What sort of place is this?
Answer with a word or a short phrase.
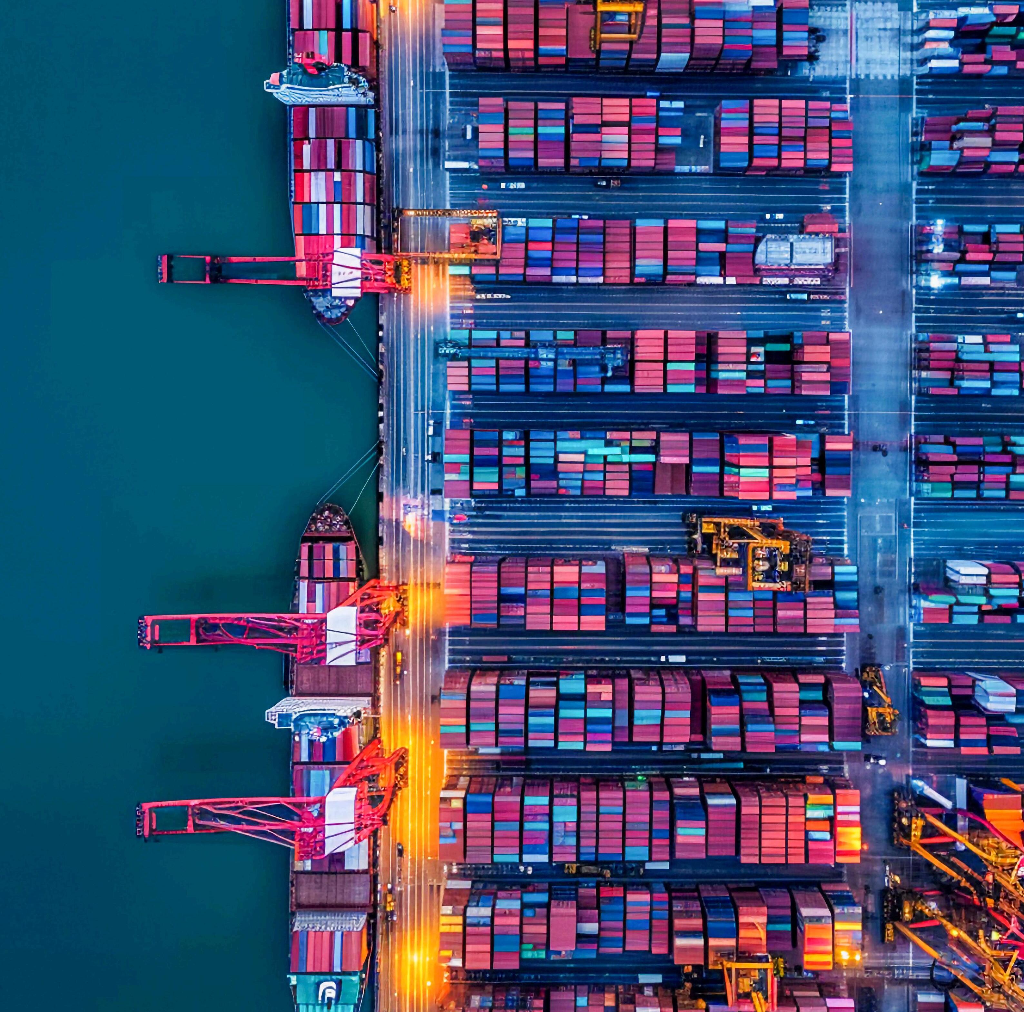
port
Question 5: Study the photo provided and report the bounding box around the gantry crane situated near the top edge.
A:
[595,1,643,63]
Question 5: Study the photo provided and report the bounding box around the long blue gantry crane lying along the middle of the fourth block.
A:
[438,342,629,376]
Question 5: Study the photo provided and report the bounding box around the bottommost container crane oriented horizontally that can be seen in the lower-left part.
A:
[134,733,414,857]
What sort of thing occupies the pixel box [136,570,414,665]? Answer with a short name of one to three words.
container crane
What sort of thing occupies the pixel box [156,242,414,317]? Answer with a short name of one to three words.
container crane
